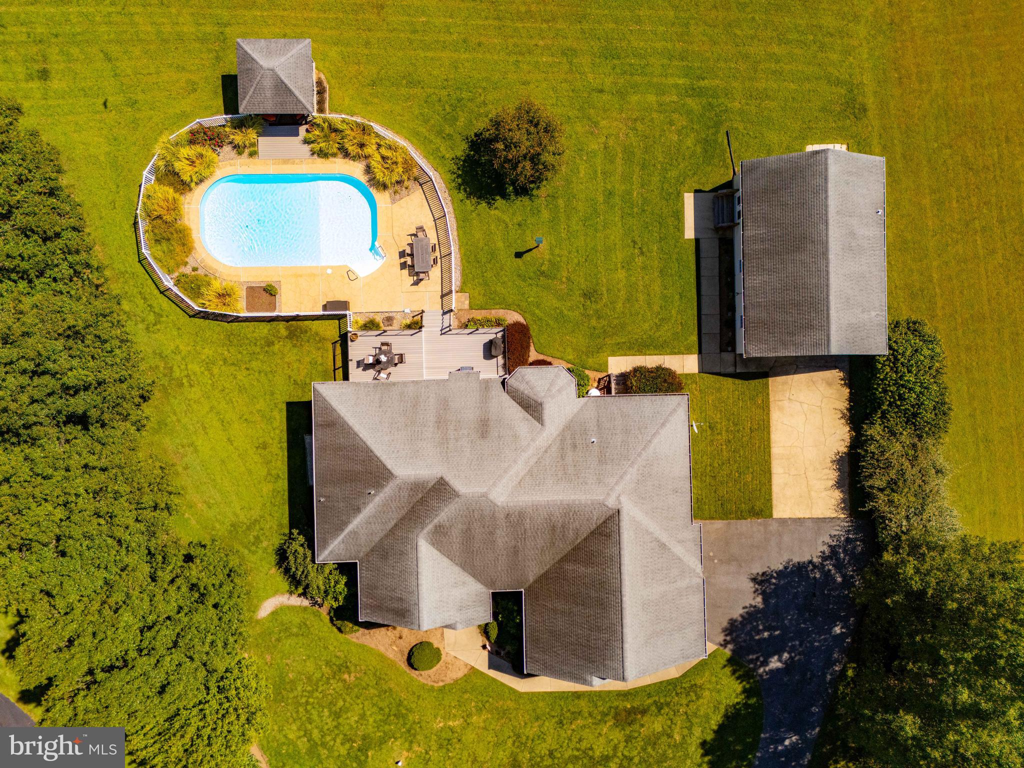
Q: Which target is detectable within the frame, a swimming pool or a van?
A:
swimming pool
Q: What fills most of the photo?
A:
grass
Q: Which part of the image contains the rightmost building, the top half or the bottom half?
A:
top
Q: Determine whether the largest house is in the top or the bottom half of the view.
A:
bottom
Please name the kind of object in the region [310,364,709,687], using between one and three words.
house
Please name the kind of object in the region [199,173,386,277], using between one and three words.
swimming pool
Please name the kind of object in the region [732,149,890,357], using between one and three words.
building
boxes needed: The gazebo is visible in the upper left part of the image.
[235,37,320,127]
